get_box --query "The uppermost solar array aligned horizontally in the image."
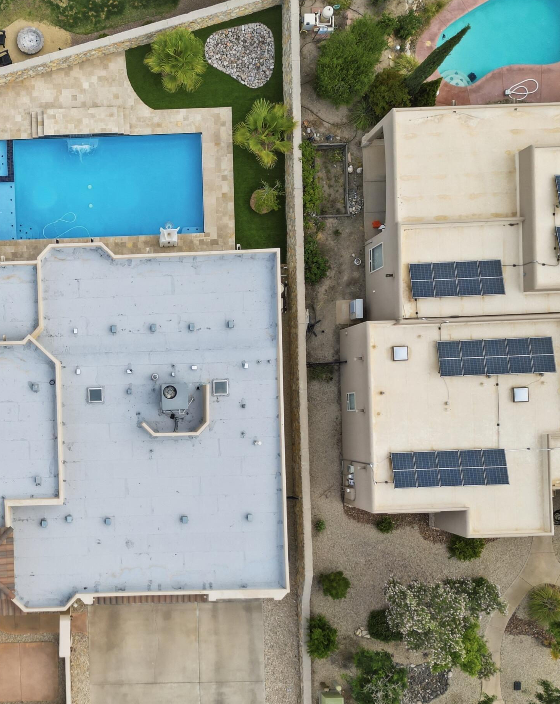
[409,260,505,298]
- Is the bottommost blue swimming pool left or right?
left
